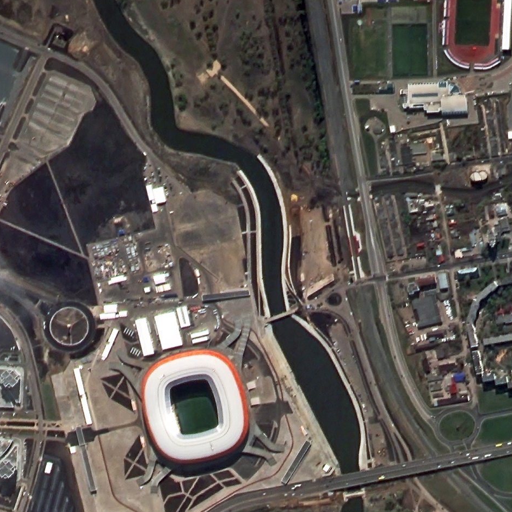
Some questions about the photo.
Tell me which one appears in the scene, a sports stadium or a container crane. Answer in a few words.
sports stadium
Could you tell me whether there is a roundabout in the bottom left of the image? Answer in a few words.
No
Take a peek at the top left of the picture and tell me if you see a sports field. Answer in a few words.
No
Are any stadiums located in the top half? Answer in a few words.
Yes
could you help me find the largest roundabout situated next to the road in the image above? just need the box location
[432,404,480,446]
